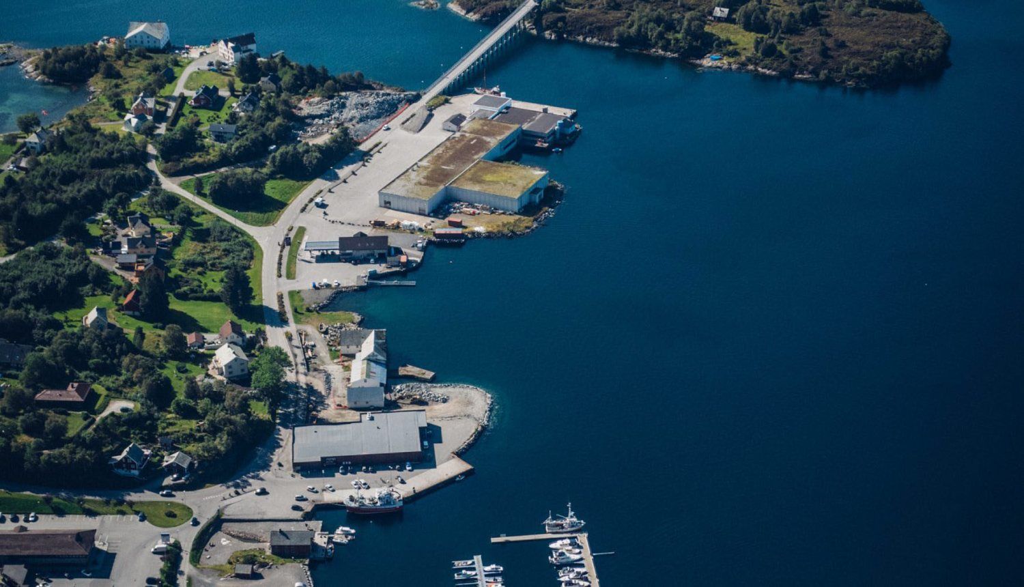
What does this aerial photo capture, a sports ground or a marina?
marina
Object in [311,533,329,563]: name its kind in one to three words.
pier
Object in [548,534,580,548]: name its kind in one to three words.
boat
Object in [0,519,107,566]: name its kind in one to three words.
building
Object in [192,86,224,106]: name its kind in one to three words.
house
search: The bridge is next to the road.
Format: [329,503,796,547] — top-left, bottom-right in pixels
[418,0,537,105]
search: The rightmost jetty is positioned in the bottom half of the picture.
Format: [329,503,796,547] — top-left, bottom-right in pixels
[556,536,616,587]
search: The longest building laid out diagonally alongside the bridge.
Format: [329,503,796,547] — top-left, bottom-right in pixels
[378,118,522,215]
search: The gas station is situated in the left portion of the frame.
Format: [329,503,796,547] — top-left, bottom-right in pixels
[337,230,391,261]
